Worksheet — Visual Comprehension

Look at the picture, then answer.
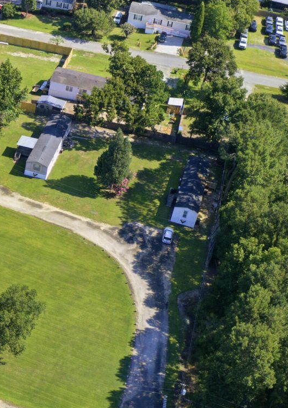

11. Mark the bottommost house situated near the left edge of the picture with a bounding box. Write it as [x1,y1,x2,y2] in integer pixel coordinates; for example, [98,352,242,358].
[14,113,71,180]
